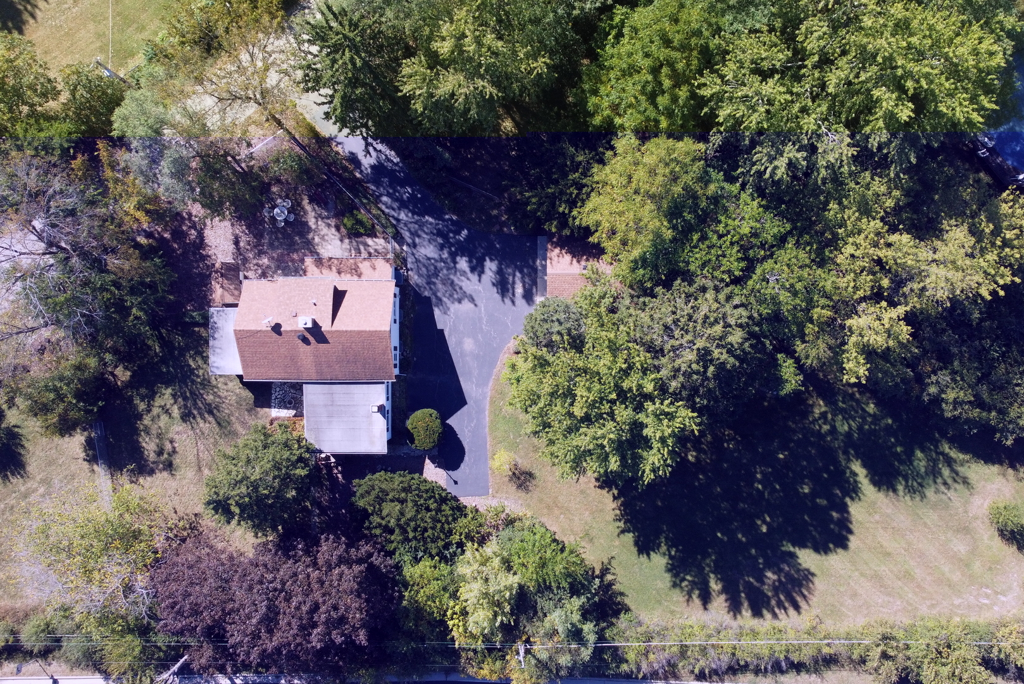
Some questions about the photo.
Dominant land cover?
trees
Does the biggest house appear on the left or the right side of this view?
left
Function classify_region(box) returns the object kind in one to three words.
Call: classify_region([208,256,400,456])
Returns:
house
